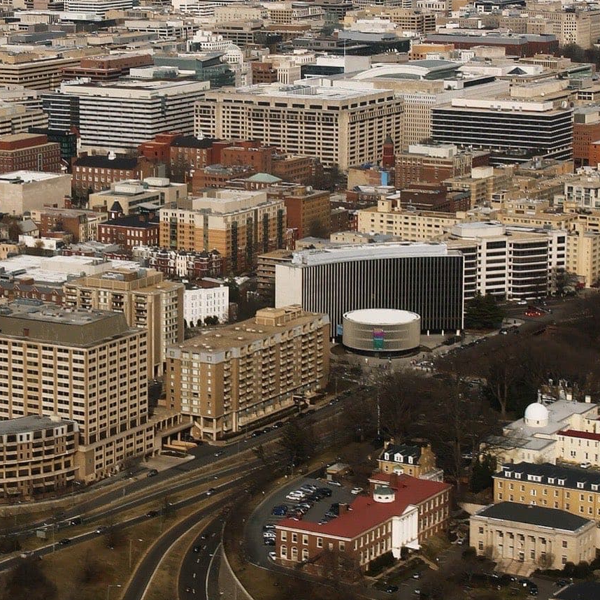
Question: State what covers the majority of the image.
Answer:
buildings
